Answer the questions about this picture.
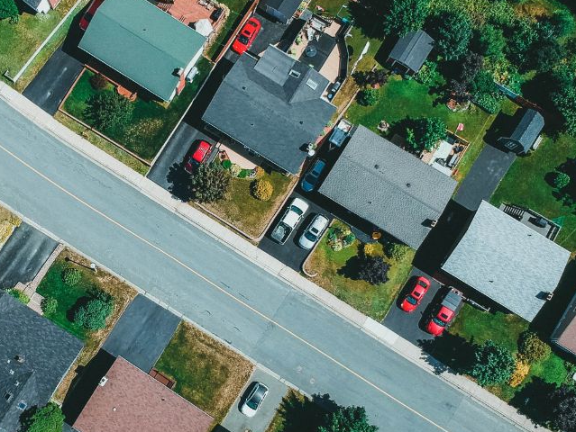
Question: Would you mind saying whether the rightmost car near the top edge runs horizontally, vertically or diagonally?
diagonally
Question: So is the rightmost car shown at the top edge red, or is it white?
red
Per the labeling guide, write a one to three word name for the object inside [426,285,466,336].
truck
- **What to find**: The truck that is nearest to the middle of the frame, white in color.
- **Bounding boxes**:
[273,197,308,245]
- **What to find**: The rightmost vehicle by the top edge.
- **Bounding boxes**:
[232,18,262,54]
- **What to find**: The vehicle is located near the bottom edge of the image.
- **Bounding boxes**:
[241,380,268,419]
